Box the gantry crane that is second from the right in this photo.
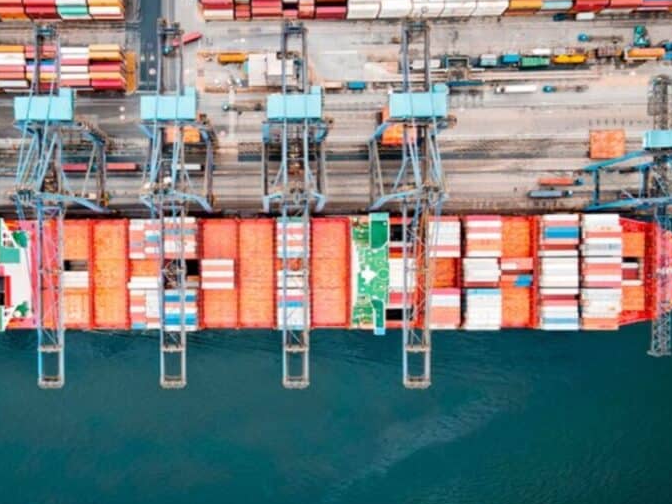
[360,16,454,389]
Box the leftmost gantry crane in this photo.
[13,19,113,389]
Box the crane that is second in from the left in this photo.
[138,16,221,389]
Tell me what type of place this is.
port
